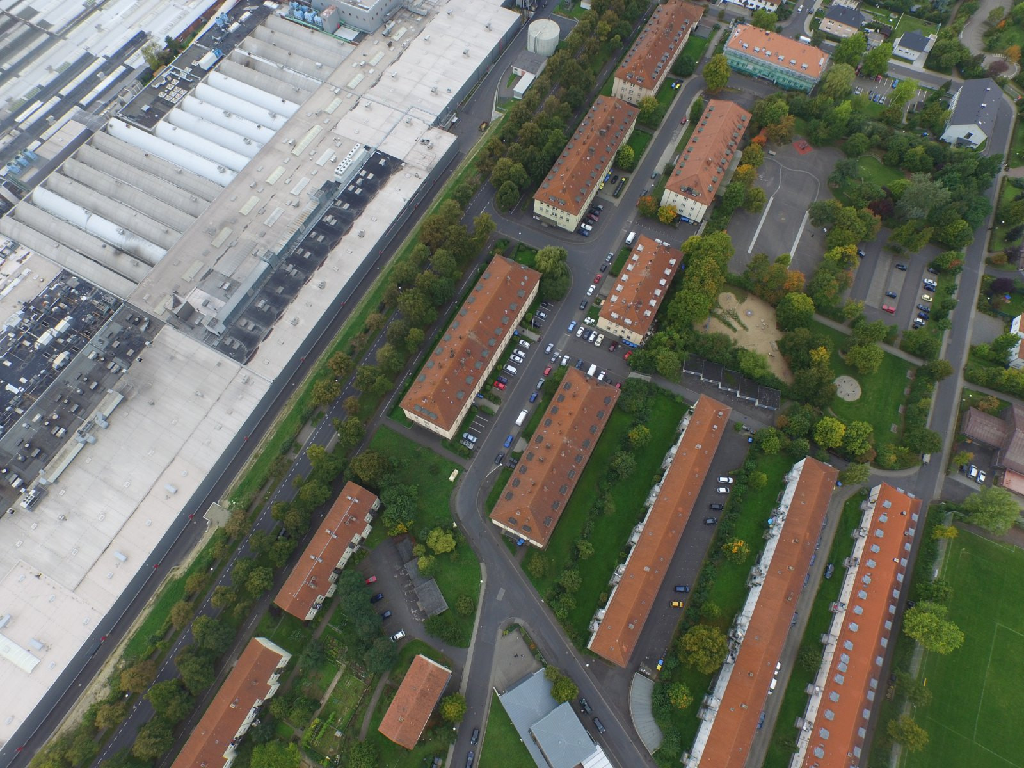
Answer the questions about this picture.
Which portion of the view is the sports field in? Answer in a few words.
bottom right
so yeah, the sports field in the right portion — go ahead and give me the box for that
[908,530,1024,768]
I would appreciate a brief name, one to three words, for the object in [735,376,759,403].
building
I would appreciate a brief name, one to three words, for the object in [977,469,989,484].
vehicle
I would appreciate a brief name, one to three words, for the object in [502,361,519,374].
vehicle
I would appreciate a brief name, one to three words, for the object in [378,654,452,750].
house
